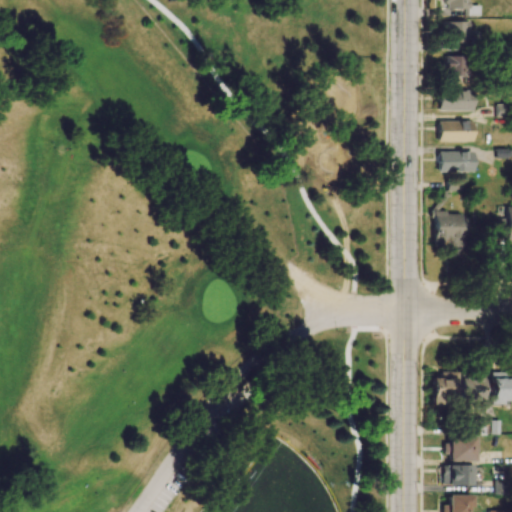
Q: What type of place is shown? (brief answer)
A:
golf course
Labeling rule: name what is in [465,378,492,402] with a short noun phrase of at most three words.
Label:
house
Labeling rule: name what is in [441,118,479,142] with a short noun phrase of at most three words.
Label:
house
